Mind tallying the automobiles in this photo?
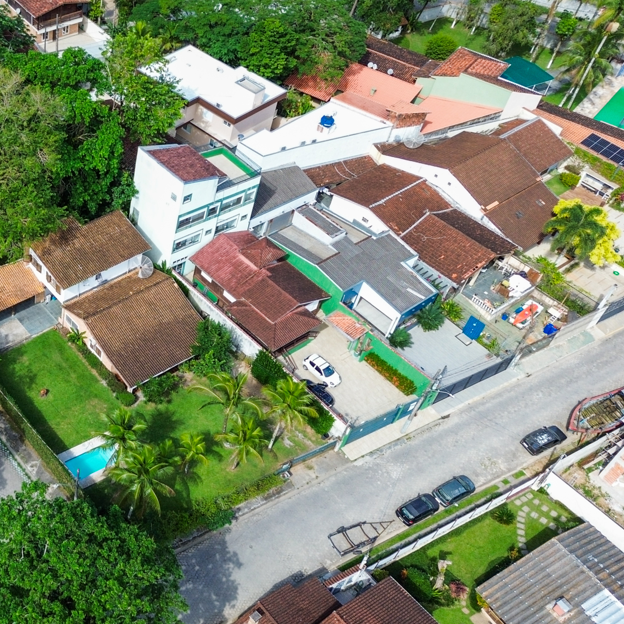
5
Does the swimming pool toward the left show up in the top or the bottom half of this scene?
bottom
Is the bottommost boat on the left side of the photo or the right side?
right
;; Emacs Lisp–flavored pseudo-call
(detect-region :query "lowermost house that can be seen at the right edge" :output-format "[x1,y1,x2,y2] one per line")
[469,522,624,624]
